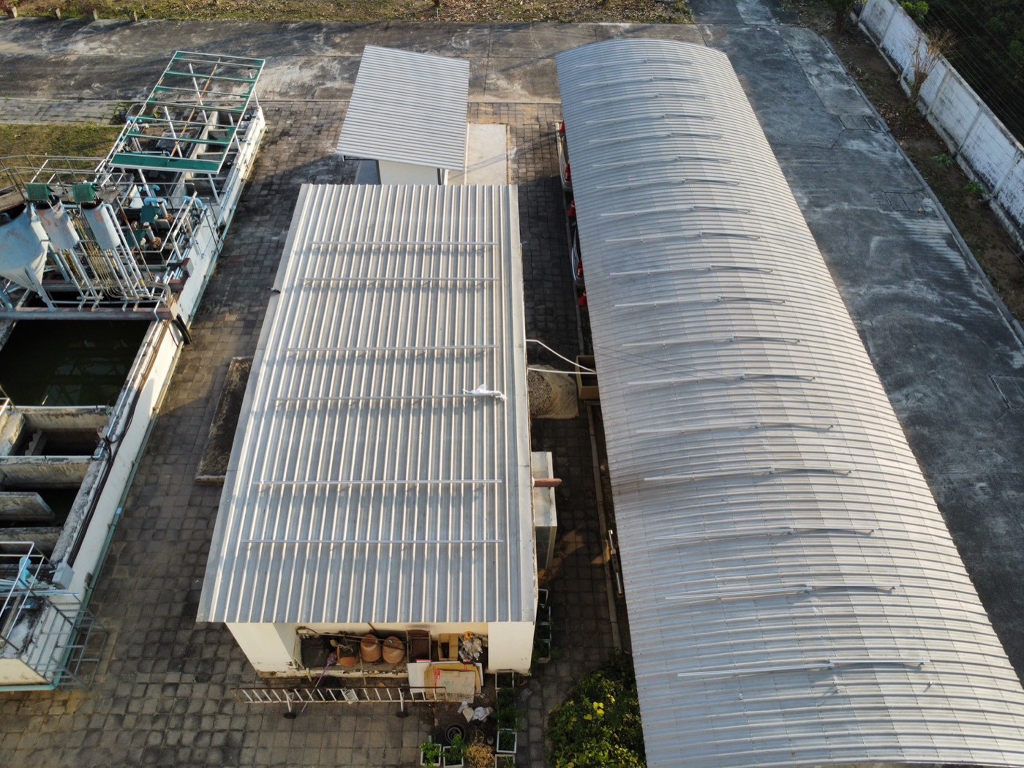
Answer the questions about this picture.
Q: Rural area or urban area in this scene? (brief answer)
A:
urban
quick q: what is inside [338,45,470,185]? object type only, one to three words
shed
